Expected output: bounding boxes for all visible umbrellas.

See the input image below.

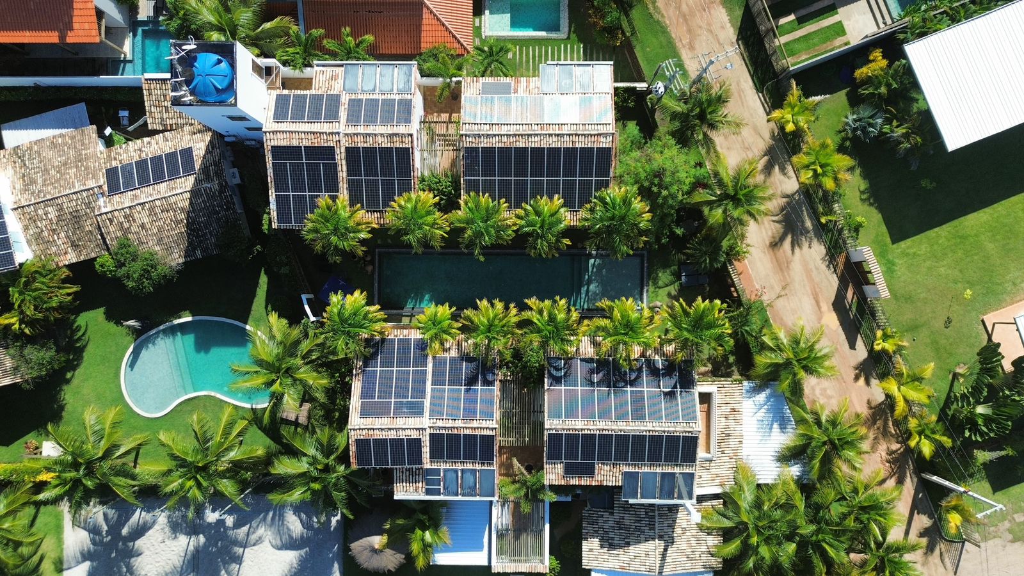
[350,523,406,576]
[318,276,357,304]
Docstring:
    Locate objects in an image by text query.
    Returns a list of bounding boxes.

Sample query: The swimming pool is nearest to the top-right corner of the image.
[892,0,931,20]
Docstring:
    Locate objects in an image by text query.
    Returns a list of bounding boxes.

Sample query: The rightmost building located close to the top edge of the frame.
[886,0,1024,158]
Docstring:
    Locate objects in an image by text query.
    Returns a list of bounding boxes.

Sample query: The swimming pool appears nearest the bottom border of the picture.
[122,318,283,415]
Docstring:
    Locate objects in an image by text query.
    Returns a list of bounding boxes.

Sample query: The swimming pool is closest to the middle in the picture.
[375,250,647,313]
